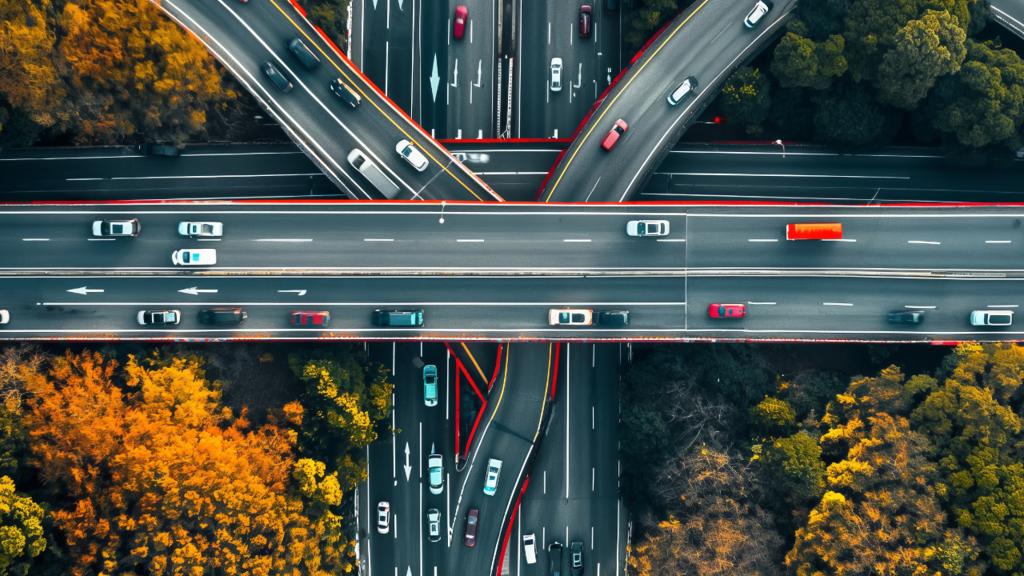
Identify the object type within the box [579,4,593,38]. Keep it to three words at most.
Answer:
car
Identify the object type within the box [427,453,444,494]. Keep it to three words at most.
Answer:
car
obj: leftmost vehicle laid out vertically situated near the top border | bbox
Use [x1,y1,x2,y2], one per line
[452,4,467,39]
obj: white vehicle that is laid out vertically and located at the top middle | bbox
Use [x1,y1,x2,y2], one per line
[549,56,564,91]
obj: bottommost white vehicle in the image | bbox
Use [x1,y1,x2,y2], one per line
[522,534,537,567]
